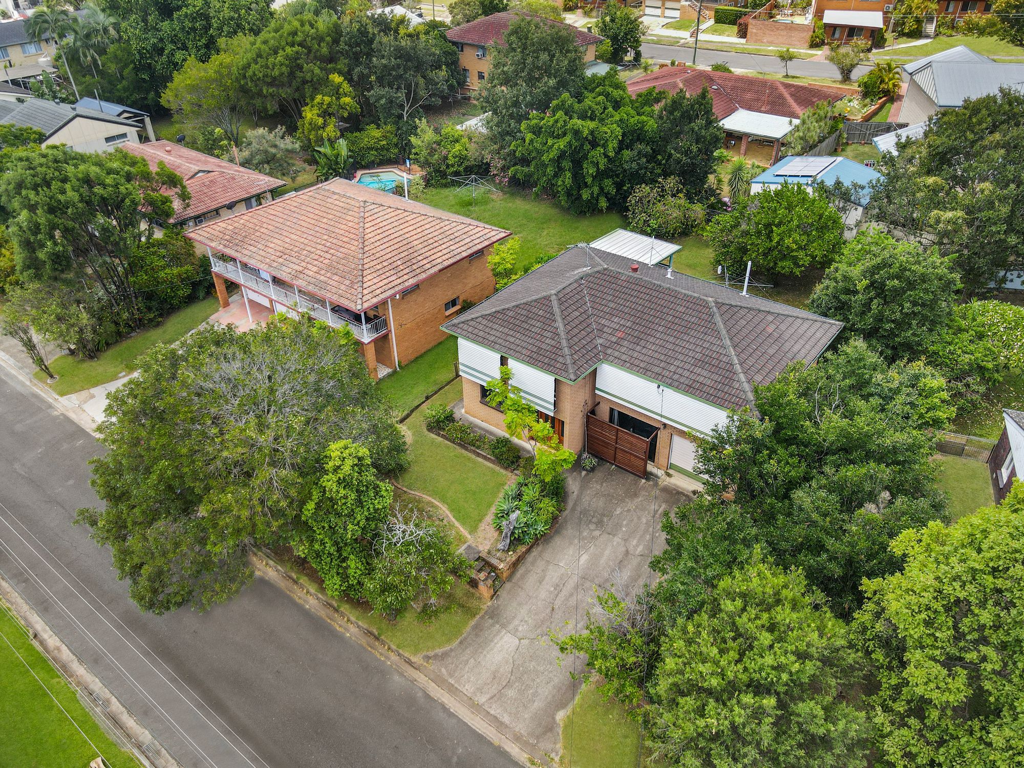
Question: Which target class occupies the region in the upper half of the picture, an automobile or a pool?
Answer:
pool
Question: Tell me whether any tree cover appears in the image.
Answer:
Yes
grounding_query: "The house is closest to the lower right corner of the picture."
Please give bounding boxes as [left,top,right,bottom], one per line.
[986,403,1024,486]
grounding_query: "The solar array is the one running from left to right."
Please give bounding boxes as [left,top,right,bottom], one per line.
[775,157,837,176]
